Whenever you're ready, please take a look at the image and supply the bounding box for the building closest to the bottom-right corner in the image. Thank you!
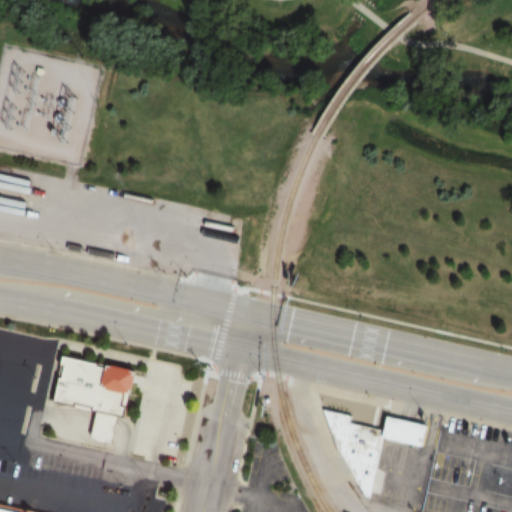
[384,416,428,448]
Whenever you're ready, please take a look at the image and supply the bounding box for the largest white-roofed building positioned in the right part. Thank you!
[324,409,384,498]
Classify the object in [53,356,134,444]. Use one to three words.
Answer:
building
